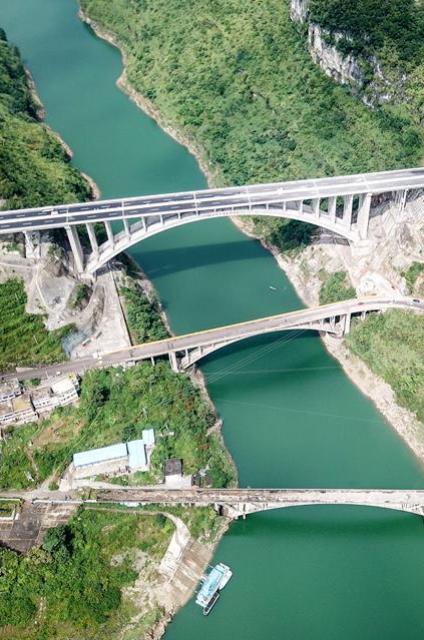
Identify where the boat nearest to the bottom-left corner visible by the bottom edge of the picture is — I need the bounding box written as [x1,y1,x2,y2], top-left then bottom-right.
[202,593,217,614]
